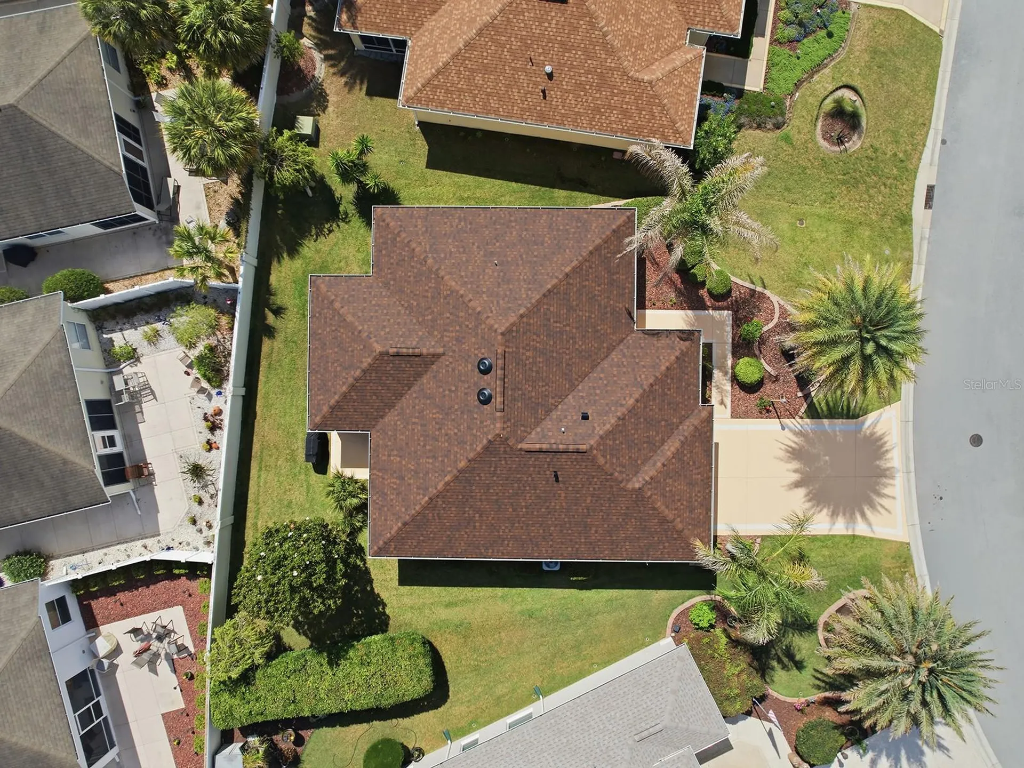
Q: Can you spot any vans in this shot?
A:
No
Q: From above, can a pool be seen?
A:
No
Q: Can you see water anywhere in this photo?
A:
No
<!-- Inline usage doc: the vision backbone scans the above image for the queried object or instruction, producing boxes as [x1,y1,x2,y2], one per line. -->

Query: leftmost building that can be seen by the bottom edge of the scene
[0,571,119,768]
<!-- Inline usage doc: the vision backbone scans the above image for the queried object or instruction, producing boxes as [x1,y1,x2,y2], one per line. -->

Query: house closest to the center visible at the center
[308,207,713,560]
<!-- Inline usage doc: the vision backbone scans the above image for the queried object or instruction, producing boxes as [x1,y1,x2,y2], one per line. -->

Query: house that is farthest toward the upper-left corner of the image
[0,7,158,249]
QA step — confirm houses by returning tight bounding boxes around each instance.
[335,0,746,157]
[403,638,731,768]
[0,7,158,249]
[308,207,713,560]
[0,293,139,528]
[0,571,119,768]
